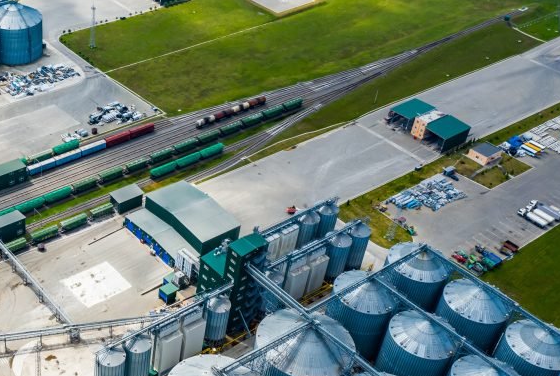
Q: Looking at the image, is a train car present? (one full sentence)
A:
Yes, looking at the shot, I can spot a train car.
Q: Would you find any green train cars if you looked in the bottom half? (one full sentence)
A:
Yes, a green train car appears in the bottom half.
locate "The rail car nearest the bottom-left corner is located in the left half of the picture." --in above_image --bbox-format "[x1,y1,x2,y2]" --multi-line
[0,236,28,256]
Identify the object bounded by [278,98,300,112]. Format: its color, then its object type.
green rail car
